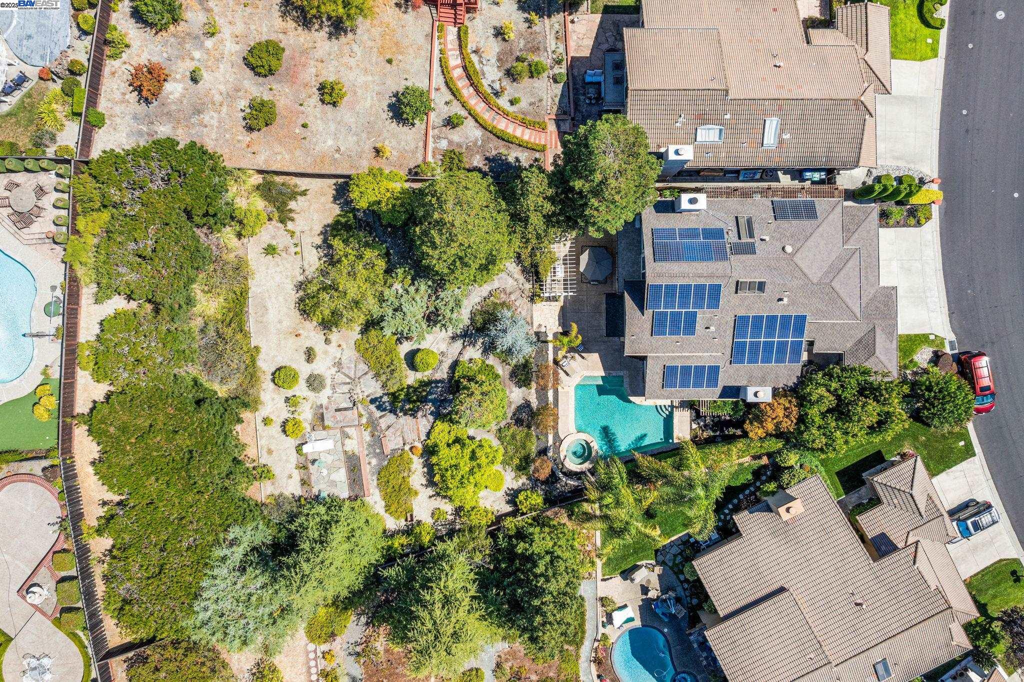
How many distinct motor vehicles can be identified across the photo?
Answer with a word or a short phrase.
two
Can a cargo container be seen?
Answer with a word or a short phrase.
No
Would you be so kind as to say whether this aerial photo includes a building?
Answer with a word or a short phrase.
Yes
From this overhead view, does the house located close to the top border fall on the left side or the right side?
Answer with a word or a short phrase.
right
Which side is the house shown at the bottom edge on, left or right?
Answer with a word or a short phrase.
right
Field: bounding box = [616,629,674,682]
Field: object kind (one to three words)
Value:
swimming pool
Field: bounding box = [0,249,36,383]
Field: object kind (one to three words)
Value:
swimming pool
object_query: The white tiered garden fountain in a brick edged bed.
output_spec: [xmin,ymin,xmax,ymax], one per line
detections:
[21,588,47,607]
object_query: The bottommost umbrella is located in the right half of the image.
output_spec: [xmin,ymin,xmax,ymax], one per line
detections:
[612,600,634,625]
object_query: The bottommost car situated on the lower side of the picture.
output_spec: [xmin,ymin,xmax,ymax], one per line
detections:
[947,499,1009,547]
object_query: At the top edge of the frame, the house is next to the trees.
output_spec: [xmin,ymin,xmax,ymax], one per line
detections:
[620,0,893,182]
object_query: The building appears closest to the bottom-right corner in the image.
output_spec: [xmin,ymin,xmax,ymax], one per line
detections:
[687,454,981,682]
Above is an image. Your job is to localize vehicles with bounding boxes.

[947,499,1009,547]
[960,349,1001,416]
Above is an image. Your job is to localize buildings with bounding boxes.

[687,454,981,682]
[620,0,893,182]
[604,194,900,402]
